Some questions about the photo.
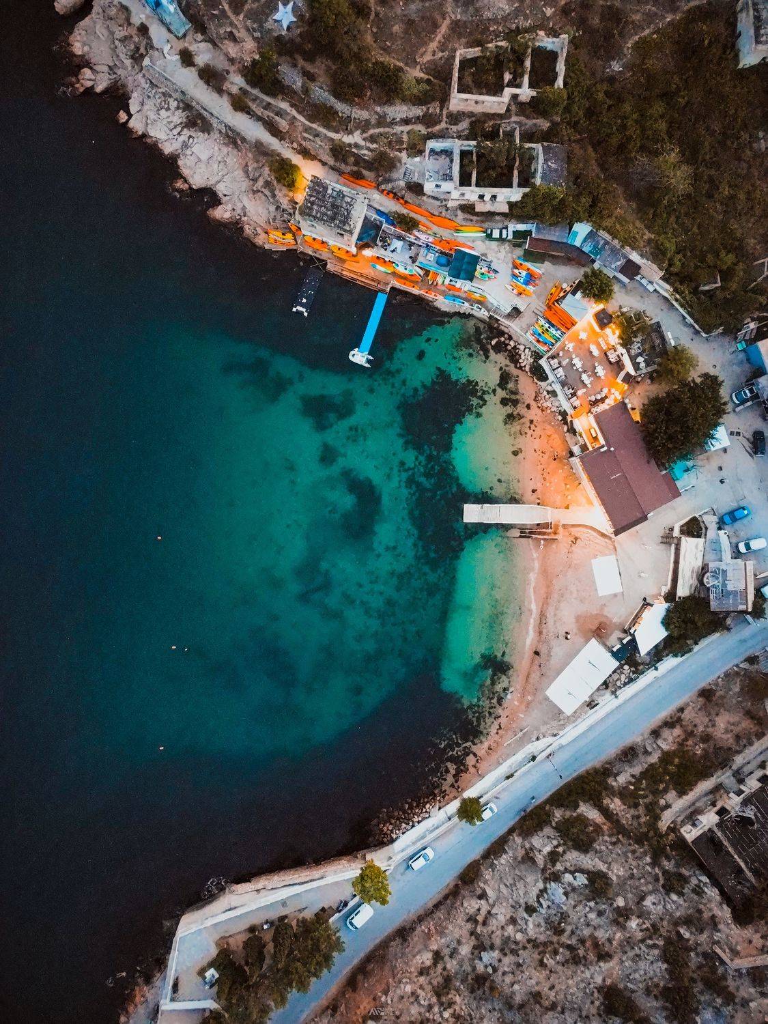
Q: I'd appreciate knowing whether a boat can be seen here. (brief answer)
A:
Yes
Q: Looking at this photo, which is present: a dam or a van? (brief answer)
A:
van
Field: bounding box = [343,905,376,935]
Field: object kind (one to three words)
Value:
van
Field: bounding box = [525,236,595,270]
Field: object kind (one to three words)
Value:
shed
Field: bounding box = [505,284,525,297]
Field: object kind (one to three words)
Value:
boat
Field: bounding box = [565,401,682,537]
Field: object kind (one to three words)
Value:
house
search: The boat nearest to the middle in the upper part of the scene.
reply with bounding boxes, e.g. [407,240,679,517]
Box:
[350,347,374,367]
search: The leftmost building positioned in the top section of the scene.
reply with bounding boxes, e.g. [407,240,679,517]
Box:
[300,175,368,251]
